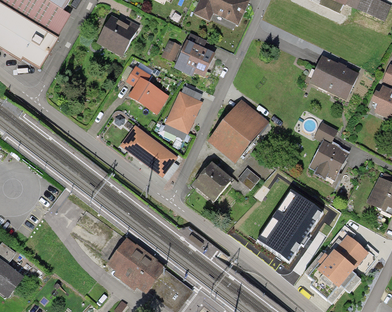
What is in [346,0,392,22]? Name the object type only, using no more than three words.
barn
